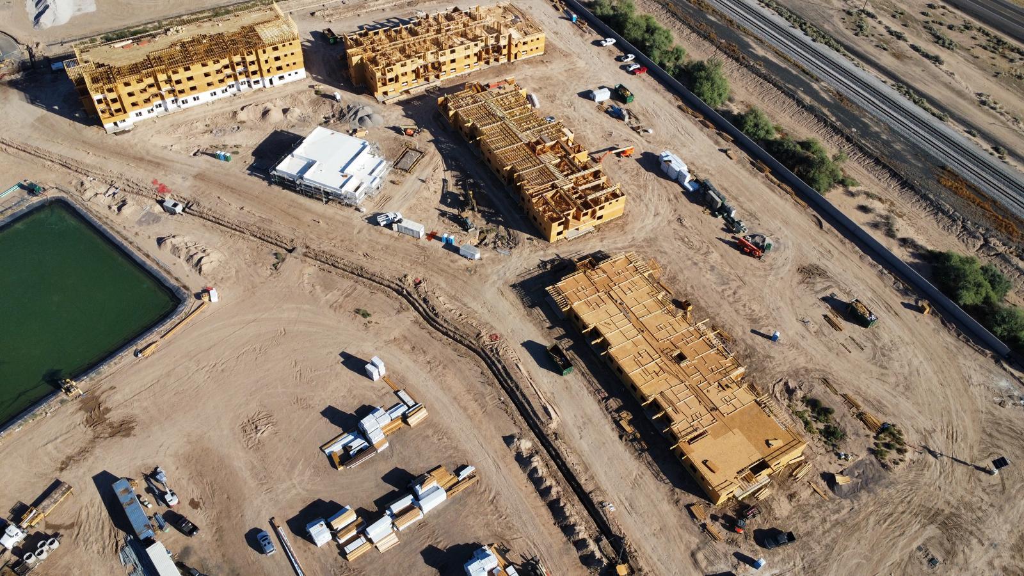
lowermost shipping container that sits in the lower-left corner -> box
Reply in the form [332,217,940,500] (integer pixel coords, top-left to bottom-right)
[146,542,178,576]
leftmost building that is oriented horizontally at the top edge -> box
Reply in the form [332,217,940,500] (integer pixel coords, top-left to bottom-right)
[64,0,307,135]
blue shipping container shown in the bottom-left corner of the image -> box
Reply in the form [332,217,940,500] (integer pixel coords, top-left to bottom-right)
[112,478,159,548]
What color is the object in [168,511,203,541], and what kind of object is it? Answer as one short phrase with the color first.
black truck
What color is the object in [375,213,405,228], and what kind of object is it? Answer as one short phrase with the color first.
white vehicle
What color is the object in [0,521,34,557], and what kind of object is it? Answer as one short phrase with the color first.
white truck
